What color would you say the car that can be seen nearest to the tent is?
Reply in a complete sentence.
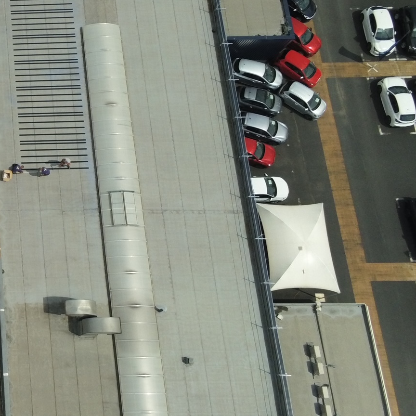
The car that can be seen nearest to the tent looks white in the image.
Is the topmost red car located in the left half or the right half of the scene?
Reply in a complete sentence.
You can find the topmost red car on the right side of the picture.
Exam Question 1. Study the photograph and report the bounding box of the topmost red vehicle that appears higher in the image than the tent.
[290,14,328,58]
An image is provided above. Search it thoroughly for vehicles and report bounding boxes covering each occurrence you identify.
[234,60,285,95]
[244,113,291,150]
[290,14,328,58]
[255,173,292,204]
[277,79,333,123]
[248,138,280,171]
[274,46,328,90]
[375,76,416,128]
[363,10,402,61]
[289,0,321,25]
[238,86,284,120]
